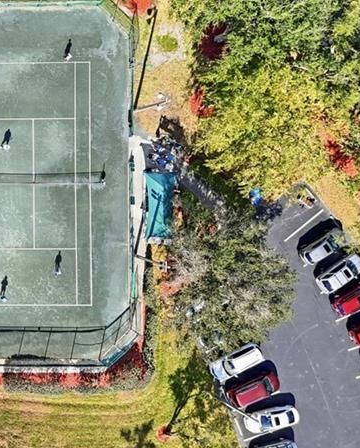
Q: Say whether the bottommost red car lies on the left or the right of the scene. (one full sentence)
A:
The bottommost red car sits on the right side.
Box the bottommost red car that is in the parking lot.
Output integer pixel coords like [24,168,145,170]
[227,371,279,406]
